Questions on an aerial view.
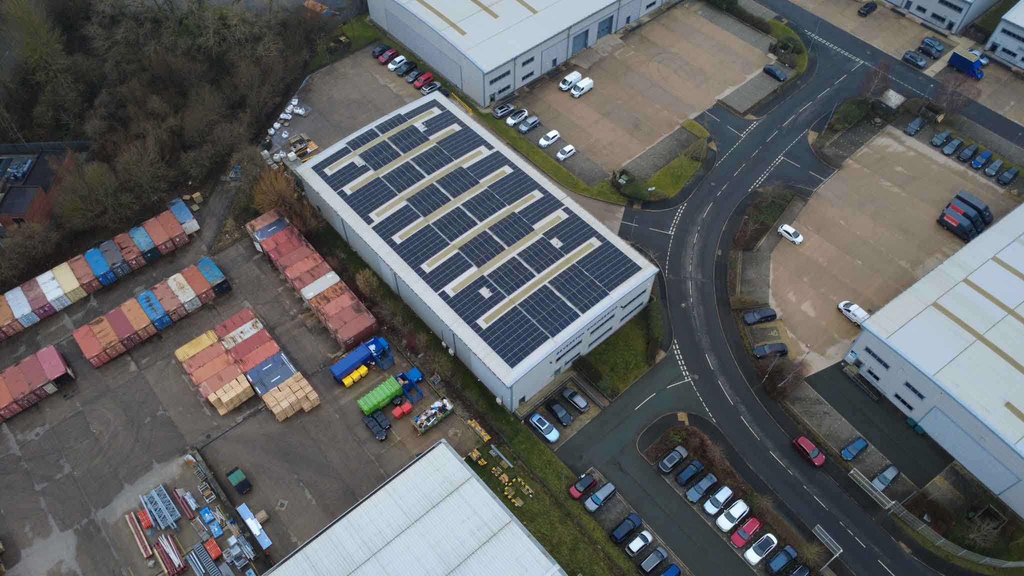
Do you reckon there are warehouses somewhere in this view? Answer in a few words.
Yes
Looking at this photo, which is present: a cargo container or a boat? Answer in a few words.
cargo container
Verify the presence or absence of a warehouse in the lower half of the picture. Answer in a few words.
Yes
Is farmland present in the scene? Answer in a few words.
No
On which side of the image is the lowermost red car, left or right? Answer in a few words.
right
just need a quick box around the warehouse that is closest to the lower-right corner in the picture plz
[842,199,1024,517]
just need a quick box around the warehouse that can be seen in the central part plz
[289,90,661,414]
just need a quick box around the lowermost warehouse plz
[258,437,571,576]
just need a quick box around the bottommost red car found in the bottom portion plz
[732,516,762,547]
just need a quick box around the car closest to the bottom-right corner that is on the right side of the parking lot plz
[871,464,901,492]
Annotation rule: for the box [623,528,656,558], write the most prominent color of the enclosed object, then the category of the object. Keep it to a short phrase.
white car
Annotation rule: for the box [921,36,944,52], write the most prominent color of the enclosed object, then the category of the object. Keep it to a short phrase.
blue car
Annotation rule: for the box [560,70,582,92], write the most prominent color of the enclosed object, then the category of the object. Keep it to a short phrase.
white vehicle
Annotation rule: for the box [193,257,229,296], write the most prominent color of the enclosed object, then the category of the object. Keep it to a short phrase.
blue shipping container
